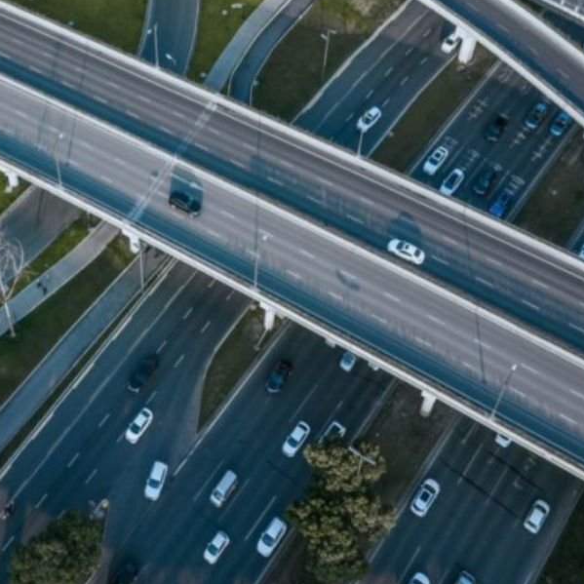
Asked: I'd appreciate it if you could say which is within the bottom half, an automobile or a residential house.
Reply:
automobile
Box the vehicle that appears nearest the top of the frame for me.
[440,32,463,54]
